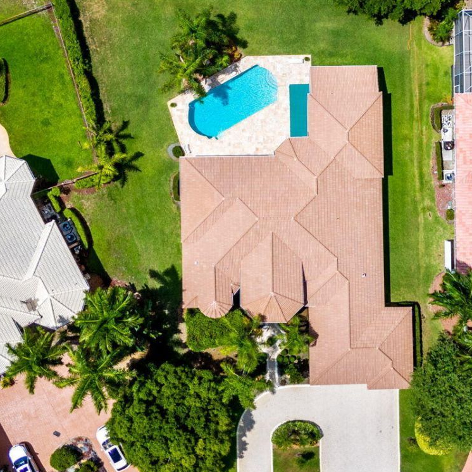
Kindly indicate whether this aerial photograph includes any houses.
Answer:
Yes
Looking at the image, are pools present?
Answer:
Yes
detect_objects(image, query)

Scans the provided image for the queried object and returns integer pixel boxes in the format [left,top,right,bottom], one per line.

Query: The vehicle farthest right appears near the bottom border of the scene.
[93,425,126,472]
